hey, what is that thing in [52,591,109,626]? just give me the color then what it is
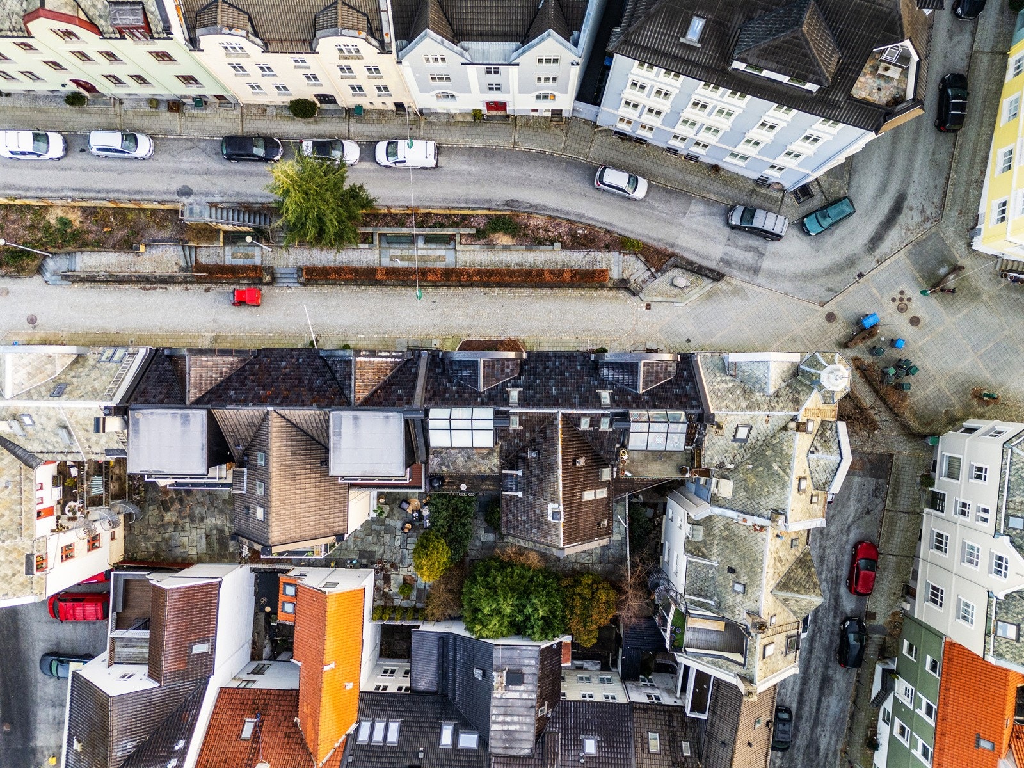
red van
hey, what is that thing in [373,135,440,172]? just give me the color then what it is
white van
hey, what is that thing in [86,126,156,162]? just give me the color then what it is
white car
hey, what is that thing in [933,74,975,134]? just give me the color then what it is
black car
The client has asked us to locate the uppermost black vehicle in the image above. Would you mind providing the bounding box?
[950,0,989,33]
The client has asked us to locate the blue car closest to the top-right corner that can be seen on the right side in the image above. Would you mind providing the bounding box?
[800,193,861,237]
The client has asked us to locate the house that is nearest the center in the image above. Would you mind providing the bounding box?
[400,346,719,552]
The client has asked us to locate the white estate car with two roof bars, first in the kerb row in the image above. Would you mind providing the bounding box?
[0,126,70,163]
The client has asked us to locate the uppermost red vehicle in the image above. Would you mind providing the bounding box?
[228,286,262,308]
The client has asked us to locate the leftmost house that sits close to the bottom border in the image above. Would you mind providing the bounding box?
[62,563,253,768]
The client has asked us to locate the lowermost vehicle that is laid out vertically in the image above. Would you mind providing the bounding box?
[773,701,798,755]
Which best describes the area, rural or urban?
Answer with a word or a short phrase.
urban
